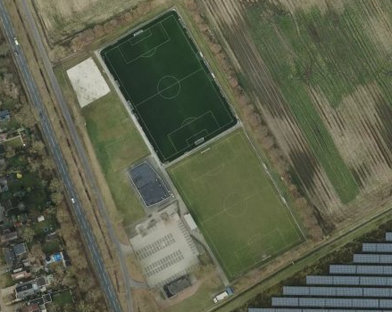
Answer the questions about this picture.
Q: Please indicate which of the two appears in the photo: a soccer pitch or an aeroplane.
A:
soccer pitch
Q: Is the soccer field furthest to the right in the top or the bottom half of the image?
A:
bottom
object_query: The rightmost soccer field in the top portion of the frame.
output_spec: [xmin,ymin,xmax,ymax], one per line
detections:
[103,14,236,160]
